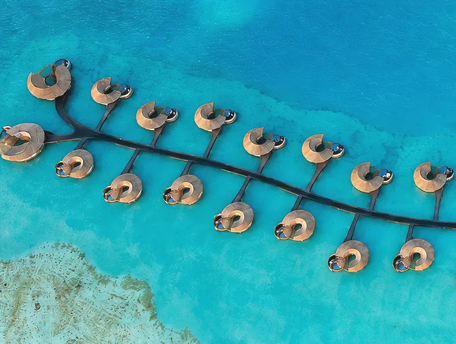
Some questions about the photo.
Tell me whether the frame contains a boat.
No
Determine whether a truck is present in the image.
No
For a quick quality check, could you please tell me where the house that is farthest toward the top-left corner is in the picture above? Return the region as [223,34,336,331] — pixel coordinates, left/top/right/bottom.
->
[25,57,73,98]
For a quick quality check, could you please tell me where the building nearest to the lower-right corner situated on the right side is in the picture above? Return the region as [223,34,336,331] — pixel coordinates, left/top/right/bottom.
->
[393,240,436,271]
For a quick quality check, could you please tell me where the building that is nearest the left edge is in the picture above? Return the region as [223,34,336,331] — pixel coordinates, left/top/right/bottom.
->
[0,123,47,162]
